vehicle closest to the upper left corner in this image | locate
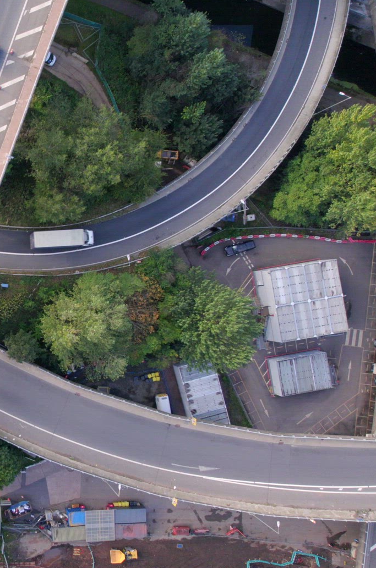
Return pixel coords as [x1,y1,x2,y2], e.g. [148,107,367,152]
[45,53,61,68]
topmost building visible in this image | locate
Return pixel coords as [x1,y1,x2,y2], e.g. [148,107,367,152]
[253,258,349,345]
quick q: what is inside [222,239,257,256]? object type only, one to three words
vehicle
